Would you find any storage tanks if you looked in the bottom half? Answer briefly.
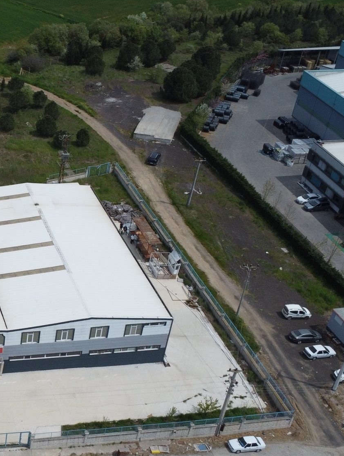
No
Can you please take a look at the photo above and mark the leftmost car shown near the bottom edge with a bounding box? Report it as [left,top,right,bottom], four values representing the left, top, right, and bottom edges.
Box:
[227,436,267,455]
